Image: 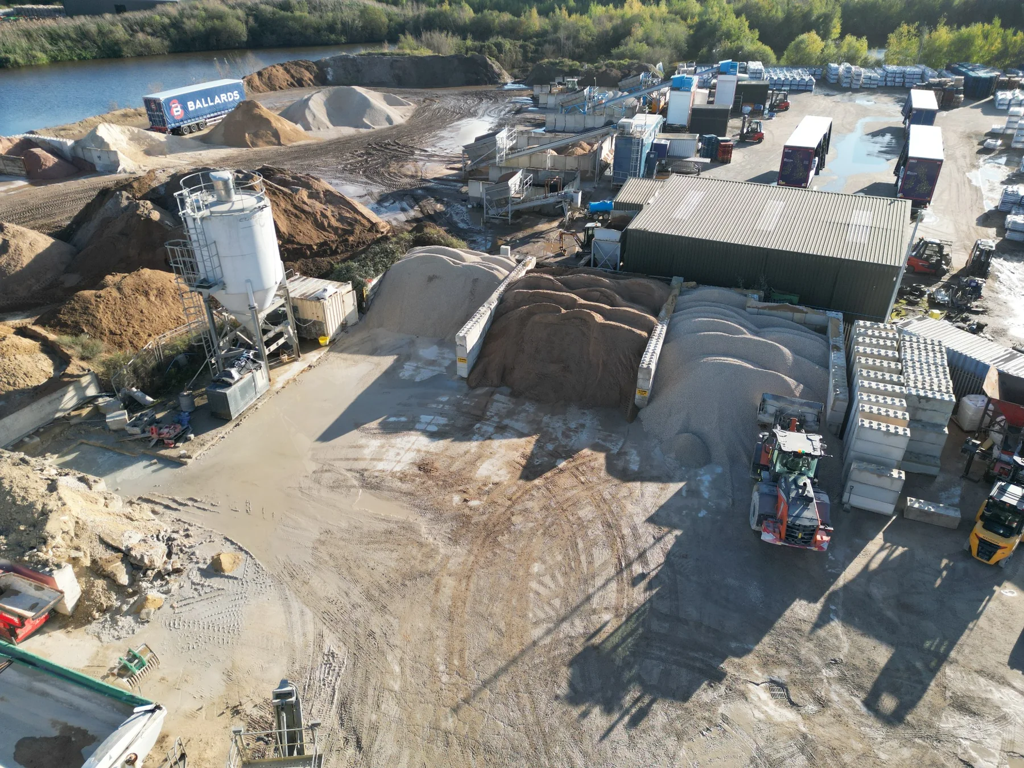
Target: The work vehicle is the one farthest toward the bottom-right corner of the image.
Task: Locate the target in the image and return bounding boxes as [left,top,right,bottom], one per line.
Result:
[969,472,1024,567]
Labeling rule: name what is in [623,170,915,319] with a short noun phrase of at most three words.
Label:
shed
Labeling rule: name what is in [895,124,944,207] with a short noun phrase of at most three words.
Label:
trailer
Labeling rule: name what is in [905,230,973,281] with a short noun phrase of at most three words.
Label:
work vehicle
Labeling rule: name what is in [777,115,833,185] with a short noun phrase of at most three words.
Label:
trailer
